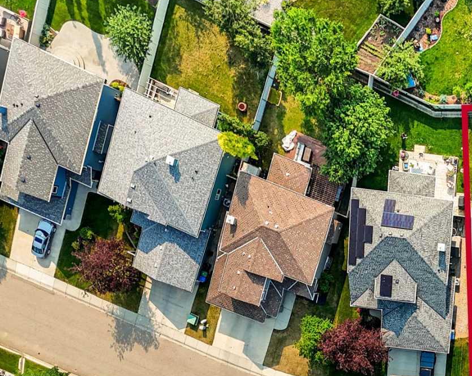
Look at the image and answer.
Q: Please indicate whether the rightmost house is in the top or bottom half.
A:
bottom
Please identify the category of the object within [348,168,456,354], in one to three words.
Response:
house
